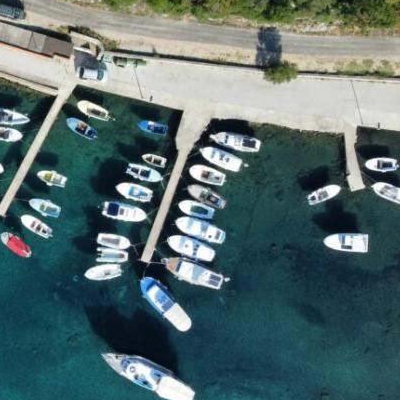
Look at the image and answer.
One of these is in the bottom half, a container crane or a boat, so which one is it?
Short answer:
boat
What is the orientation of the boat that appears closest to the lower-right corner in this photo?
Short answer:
from side to side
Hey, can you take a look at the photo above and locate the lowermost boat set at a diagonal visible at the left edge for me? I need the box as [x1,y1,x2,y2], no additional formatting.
[0,231,35,261]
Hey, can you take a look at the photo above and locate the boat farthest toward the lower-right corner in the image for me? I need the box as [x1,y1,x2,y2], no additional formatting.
[323,232,370,252]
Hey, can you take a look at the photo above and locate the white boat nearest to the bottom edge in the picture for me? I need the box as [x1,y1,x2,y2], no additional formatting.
[103,354,204,400]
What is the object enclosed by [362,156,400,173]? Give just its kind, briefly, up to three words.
boat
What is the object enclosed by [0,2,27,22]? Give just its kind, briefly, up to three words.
car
